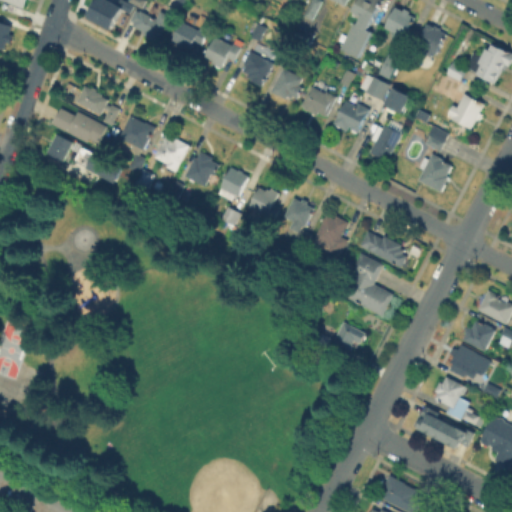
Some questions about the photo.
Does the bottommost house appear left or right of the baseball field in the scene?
right of it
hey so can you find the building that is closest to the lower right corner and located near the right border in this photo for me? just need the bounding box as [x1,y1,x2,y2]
[482,418,512,465]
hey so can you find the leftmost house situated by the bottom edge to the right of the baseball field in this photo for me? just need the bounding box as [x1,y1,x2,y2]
[382,476,420,512]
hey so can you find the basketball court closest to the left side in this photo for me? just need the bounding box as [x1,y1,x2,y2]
[0,324,25,378]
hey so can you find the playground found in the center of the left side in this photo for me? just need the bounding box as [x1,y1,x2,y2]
[73,268,120,317]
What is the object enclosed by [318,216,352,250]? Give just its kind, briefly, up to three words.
house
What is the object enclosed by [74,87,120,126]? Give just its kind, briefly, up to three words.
house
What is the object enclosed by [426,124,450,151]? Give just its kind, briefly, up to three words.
building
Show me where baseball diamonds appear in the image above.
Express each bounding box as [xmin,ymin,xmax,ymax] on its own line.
[190,456,279,512]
